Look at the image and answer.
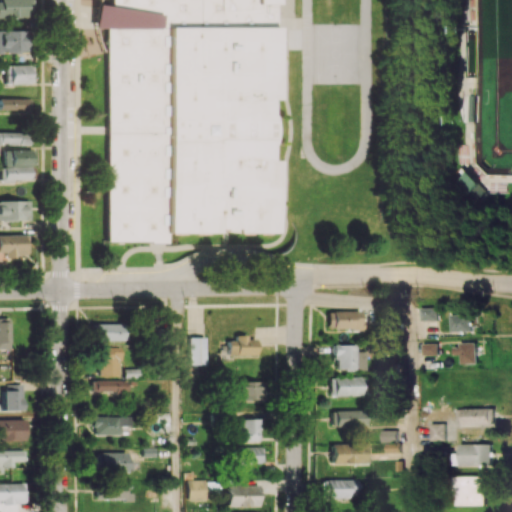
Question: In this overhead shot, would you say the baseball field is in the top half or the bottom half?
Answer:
top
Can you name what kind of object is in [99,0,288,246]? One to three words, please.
building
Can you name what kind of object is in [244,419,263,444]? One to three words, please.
house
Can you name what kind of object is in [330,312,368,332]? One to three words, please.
house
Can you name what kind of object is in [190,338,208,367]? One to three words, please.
building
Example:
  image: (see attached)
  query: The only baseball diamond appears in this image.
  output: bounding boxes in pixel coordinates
[477,0,512,174]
